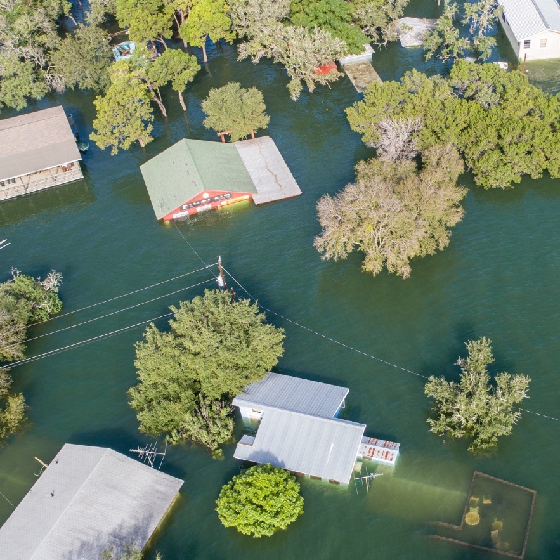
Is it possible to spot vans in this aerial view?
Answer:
No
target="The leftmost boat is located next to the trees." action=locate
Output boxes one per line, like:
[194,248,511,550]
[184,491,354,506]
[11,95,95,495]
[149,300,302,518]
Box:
[75,136,90,152]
